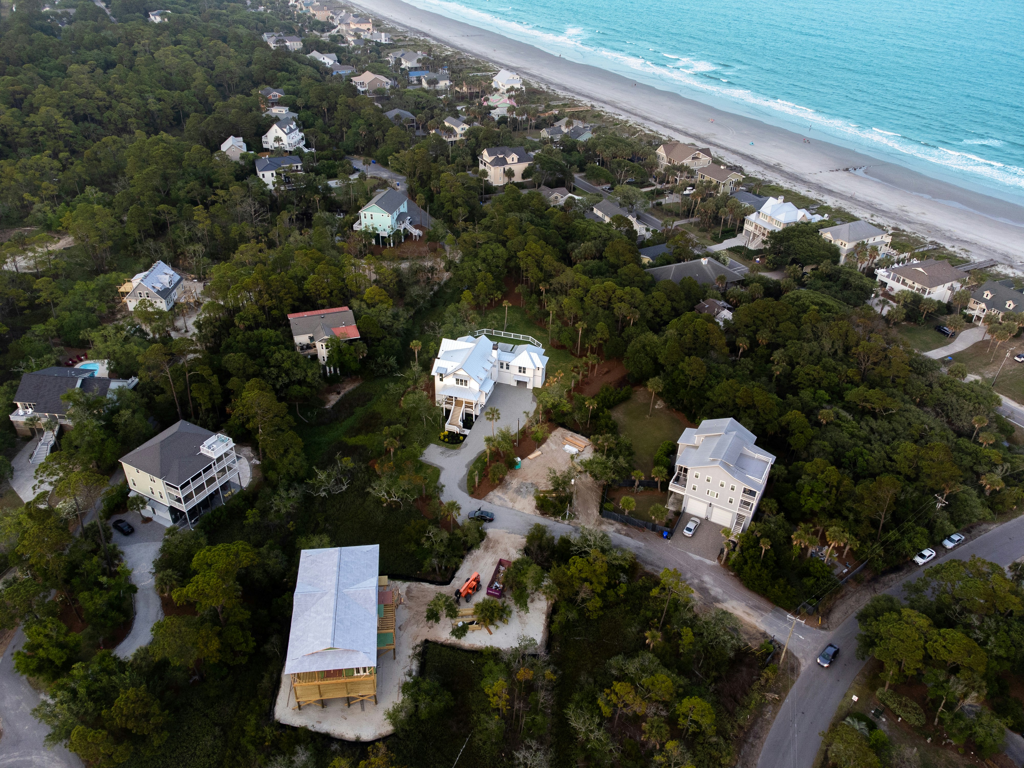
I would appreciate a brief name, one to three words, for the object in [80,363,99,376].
swimming pool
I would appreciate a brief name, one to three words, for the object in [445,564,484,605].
work vehicle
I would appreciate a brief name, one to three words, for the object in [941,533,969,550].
car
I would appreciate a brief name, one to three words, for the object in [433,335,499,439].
house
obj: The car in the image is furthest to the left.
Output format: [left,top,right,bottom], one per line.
[110,517,136,533]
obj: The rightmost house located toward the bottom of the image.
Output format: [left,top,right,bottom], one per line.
[667,419,776,533]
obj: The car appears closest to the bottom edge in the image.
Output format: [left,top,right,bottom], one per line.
[818,641,843,668]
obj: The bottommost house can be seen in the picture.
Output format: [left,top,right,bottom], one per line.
[285,544,415,714]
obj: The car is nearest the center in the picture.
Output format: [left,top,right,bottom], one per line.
[468,507,495,521]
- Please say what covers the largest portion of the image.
trees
